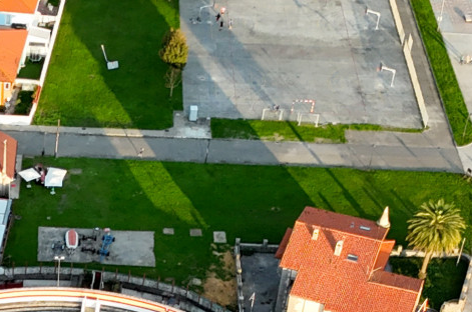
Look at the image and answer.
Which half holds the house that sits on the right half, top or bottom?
bottom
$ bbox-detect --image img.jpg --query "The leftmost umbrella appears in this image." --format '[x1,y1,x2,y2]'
[16,164,45,191]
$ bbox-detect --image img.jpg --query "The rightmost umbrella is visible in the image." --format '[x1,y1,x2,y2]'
[41,170,70,195]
